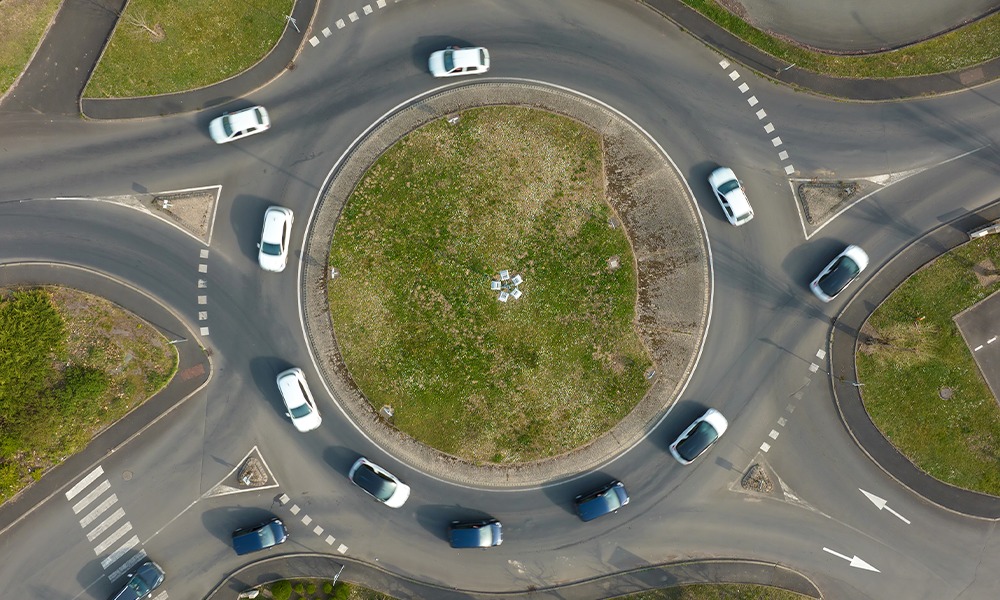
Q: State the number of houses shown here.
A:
0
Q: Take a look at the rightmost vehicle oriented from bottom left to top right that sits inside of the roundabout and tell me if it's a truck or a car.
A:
car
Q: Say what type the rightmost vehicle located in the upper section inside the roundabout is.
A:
automobile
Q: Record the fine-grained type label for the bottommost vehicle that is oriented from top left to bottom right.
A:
automobile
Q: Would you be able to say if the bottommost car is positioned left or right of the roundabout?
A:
left of it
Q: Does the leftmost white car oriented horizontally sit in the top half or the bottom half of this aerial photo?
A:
top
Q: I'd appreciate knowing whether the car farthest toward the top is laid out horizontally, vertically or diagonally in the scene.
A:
horizontally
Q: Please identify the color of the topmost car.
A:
white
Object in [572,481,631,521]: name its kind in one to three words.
car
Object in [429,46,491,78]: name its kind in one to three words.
car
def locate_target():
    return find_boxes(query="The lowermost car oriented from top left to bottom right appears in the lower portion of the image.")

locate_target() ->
[349,457,410,506]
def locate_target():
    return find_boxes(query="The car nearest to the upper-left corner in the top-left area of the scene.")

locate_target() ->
[210,107,273,145]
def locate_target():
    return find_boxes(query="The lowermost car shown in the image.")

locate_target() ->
[110,558,169,600]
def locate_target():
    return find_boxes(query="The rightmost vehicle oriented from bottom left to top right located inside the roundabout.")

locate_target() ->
[669,409,727,465]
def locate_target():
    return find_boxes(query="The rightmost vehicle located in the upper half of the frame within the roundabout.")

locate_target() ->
[707,165,755,228]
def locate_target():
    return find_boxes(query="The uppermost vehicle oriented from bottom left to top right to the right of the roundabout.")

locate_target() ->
[809,246,866,302]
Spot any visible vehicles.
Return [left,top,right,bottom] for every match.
[572,481,631,521]
[707,165,755,228]
[110,558,169,600]
[429,46,491,78]
[258,207,294,272]
[277,367,322,432]
[210,107,273,145]
[230,518,290,556]
[809,246,866,302]
[349,457,410,506]
[447,518,504,550]
[669,409,727,465]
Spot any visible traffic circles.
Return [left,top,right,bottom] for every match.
[208,0,803,581]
